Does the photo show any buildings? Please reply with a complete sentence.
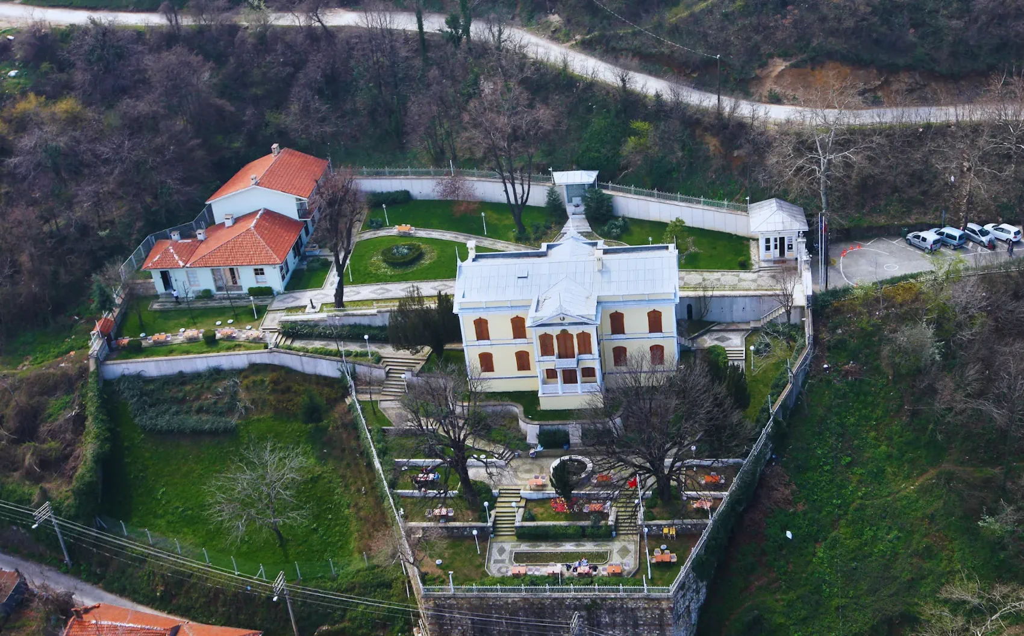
Yes, there's a building here.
